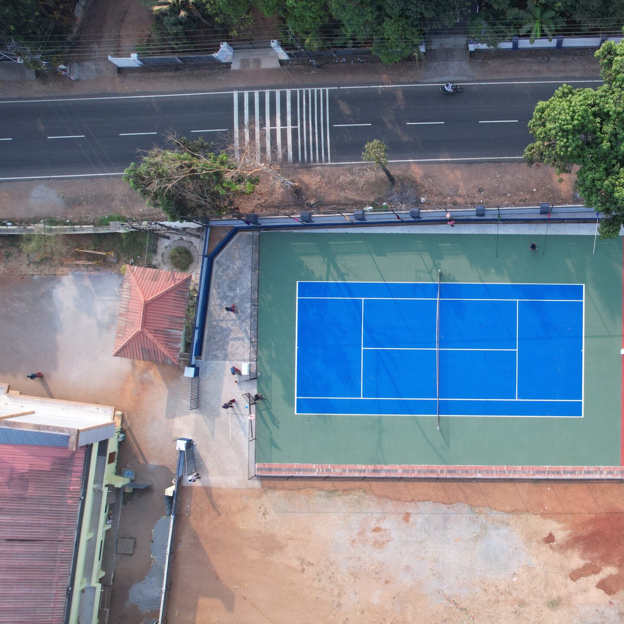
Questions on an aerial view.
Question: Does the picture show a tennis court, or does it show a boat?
tennis court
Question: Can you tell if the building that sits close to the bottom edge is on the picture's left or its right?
left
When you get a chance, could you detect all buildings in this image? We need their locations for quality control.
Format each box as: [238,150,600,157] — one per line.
[111,265,194,366]
[0,382,151,624]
